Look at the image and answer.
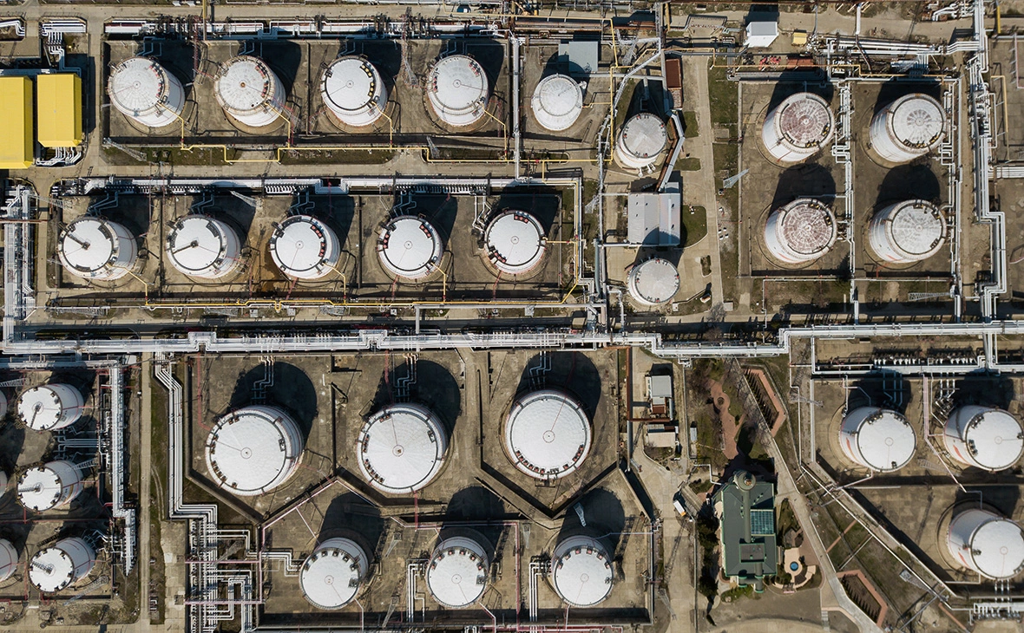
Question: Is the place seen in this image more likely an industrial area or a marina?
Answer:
industrial area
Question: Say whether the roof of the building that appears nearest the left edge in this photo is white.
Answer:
No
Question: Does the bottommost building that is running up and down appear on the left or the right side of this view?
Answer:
right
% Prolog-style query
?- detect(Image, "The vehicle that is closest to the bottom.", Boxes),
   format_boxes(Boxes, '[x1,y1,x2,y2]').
[673,501,686,517]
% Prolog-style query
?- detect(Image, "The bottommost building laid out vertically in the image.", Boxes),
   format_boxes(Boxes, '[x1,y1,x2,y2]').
[709,462,778,593]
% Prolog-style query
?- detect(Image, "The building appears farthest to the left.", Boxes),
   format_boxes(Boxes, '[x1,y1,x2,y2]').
[0,76,39,166]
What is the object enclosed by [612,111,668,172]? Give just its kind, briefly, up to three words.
storage tank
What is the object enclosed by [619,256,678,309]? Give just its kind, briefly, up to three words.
storage tank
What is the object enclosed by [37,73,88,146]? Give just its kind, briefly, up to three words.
building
